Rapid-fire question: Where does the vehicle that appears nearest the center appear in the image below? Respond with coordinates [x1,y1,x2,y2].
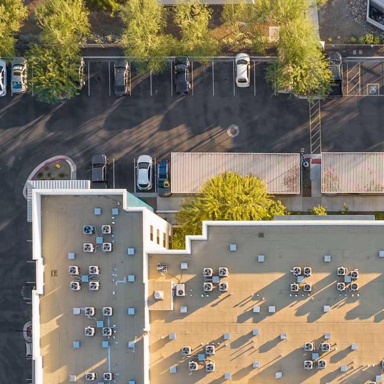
[154,161,171,197]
